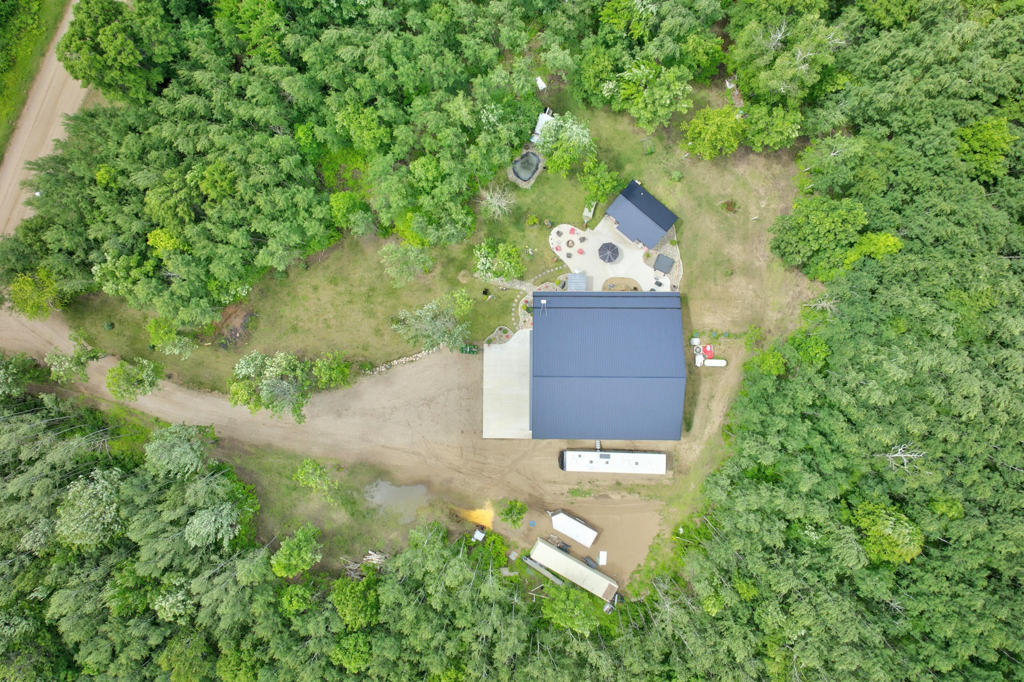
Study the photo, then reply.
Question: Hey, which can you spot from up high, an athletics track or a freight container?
freight container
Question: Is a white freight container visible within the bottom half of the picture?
Yes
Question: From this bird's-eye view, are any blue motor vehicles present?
No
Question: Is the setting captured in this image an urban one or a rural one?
rural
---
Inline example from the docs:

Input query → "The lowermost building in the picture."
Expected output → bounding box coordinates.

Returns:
[528,291,686,440]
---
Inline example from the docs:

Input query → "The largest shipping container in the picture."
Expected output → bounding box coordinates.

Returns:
[530,536,618,603]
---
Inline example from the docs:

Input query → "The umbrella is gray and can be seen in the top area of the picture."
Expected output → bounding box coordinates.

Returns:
[598,243,619,264]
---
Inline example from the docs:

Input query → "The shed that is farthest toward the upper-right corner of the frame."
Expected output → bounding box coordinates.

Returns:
[605,178,678,249]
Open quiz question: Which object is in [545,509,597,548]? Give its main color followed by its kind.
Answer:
white trailer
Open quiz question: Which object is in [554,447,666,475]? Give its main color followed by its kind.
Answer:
white vehicle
